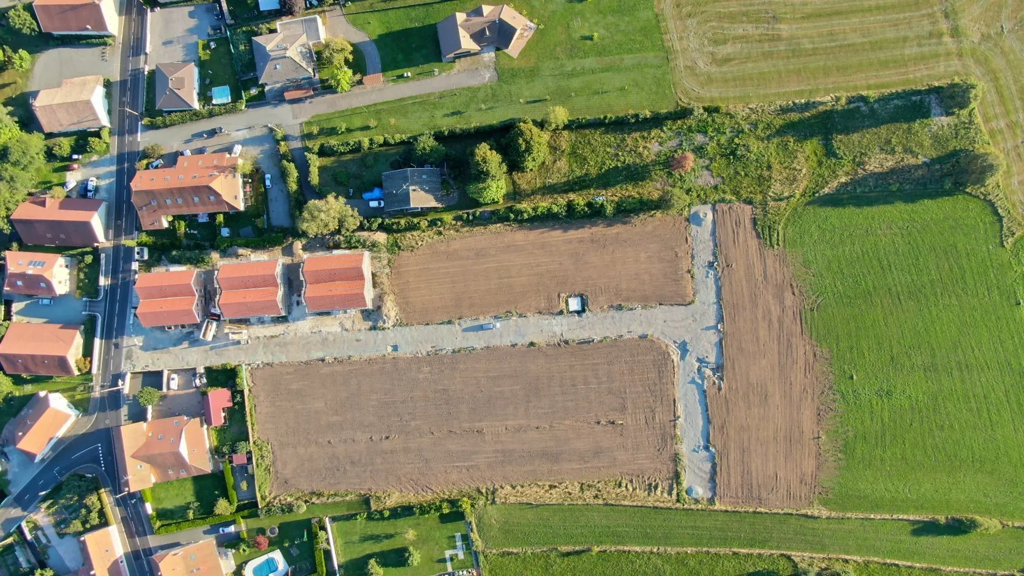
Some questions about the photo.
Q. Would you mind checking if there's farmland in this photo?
Yes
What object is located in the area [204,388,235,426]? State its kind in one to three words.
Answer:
shed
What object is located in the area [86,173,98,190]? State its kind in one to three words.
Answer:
vehicle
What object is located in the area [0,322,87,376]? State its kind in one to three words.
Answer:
house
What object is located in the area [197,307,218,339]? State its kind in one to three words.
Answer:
truck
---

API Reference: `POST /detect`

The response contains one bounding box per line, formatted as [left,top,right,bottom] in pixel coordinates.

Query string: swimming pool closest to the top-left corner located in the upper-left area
[212,86,232,105]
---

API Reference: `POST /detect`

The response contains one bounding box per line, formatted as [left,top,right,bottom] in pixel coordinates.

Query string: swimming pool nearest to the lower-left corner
[245,549,290,576]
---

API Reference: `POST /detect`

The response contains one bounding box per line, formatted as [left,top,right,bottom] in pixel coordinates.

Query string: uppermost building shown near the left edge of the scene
[33,0,117,36]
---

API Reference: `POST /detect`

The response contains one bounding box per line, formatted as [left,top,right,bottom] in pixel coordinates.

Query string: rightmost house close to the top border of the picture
[436,5,528,61]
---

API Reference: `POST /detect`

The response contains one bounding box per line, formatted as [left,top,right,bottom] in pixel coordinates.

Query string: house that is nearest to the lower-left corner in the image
[78,524,130,576]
